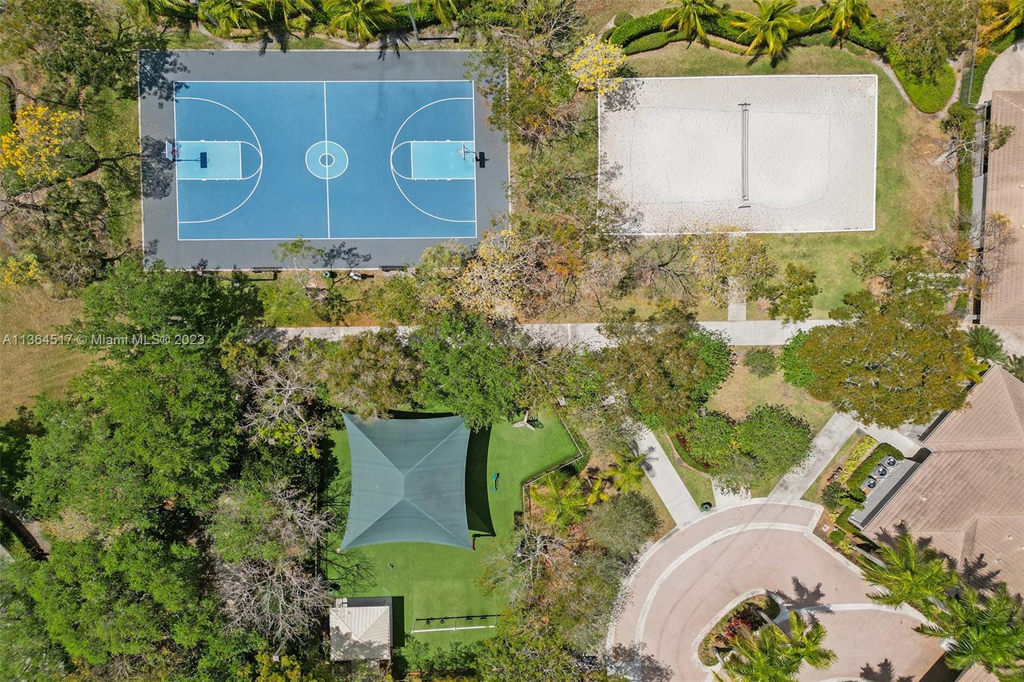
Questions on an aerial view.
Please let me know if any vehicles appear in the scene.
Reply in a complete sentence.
No, there's no vehicle here.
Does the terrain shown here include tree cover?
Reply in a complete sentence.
Yes, there's tree cover in this view.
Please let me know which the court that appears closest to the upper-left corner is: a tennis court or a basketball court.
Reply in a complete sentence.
The court that appears closest to the upper-left corner appears to be a basketball court.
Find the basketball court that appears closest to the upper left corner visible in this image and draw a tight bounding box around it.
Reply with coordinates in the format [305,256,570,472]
[138,48,513,270]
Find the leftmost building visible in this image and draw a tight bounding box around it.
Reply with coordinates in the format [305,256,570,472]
[330,596,393,661]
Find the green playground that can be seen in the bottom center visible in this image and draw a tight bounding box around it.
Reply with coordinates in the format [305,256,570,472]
[319,404,577,675]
